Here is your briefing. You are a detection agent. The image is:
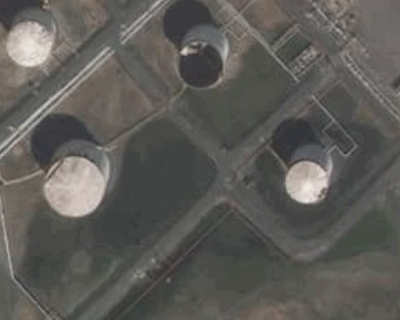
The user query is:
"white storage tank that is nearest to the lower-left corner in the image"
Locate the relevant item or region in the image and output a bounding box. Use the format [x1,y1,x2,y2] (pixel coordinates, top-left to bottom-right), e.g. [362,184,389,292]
[45,137,111,217]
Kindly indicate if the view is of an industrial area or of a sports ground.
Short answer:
industrial area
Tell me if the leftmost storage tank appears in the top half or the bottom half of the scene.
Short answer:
top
